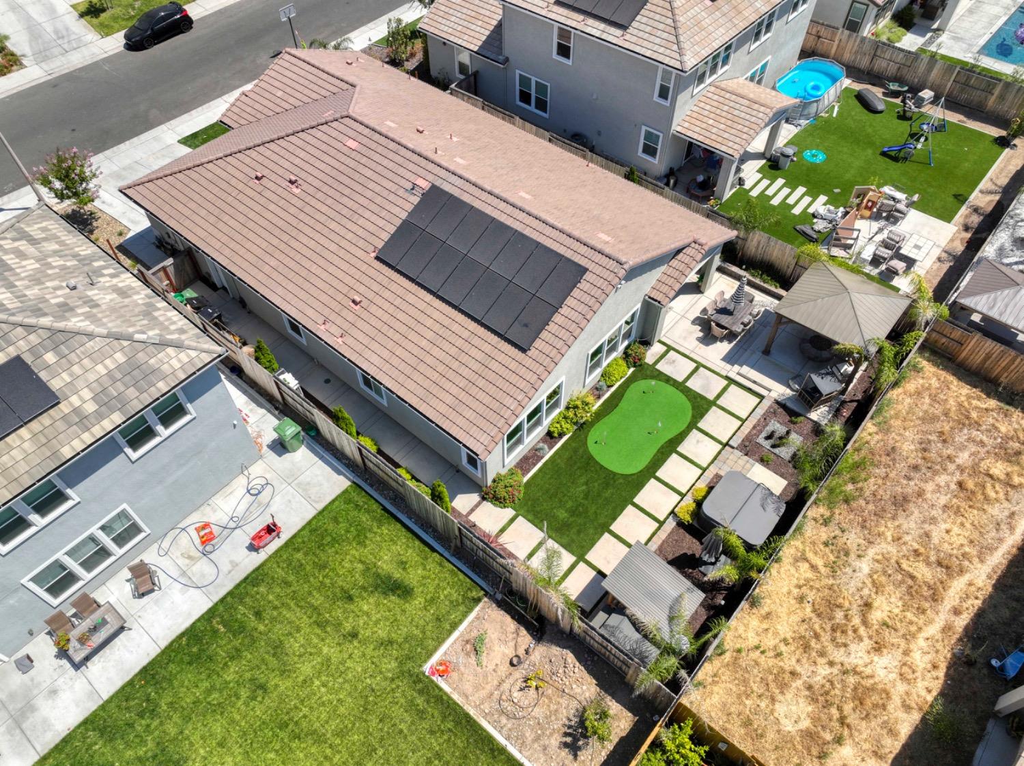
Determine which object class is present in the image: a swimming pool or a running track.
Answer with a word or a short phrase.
swimming pool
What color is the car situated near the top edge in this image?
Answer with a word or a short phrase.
black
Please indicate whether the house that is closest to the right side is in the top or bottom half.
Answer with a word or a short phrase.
bottom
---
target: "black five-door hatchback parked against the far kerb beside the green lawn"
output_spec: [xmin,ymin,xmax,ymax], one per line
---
[119,0,191,46]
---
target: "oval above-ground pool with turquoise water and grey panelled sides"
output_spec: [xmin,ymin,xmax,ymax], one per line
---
[770,54,848,120]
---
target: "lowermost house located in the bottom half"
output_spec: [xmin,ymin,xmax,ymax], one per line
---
[993,692,1024,726]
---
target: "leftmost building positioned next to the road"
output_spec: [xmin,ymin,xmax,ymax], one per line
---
[0,198,256,665]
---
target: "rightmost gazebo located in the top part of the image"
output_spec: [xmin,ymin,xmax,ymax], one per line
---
[949,254,1024,332]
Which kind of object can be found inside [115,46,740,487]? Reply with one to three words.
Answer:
house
